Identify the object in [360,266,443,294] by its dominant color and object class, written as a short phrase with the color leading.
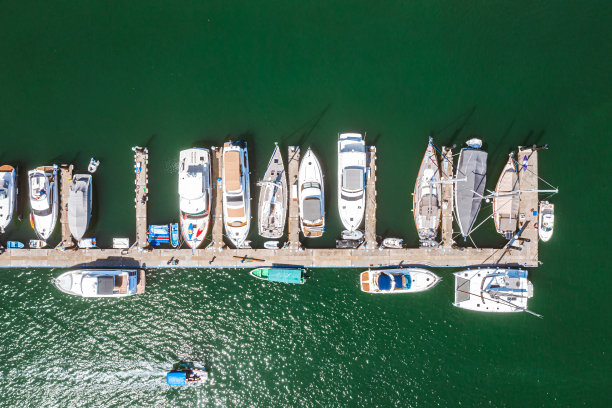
white boat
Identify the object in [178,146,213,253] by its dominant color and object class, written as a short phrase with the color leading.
white boat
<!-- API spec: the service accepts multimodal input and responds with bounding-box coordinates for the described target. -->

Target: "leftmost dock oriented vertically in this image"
[54,166,80,249]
